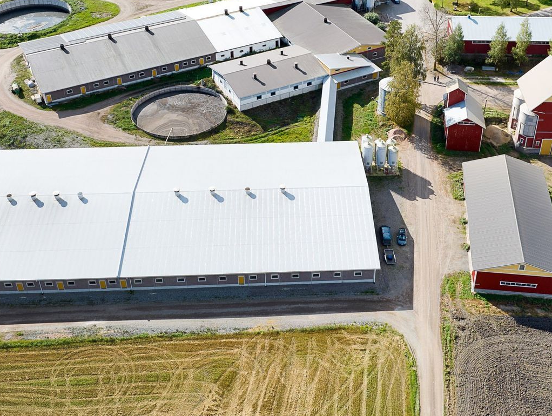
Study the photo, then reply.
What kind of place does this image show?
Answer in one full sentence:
What you see here is an industrial area.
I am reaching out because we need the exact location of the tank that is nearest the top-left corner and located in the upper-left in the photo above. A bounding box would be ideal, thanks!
[0,0,70,38]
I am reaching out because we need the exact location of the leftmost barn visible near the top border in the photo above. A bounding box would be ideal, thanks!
[21,9,219,105]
